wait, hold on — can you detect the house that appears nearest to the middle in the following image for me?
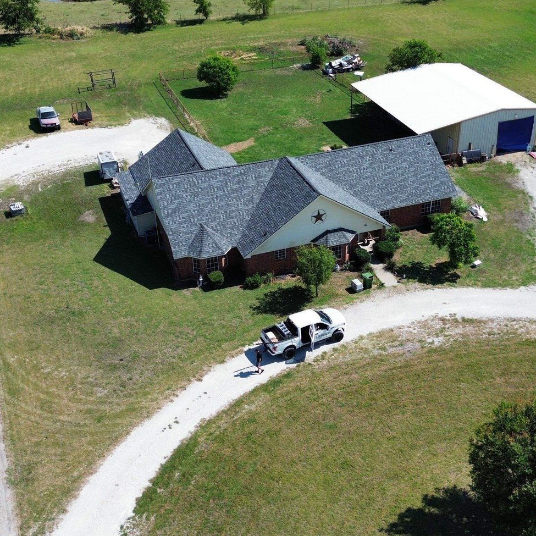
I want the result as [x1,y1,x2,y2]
[115,128,458,286]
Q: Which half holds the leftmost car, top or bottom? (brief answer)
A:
top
